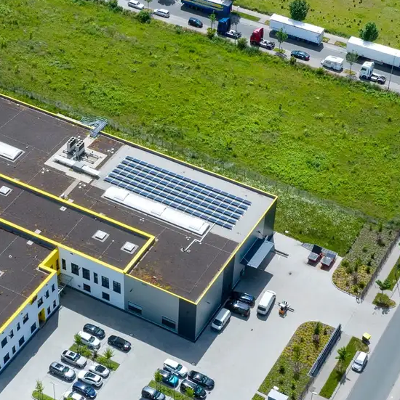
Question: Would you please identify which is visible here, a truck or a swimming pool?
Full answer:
The image shows a truck.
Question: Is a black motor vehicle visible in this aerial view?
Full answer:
Yes, the image includes a black motor vehicle.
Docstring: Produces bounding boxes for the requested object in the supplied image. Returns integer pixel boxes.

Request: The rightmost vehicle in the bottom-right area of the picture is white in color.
[350,349,369,373]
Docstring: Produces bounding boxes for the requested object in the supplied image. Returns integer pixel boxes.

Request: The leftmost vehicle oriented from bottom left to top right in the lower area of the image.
[211,306,233,331]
